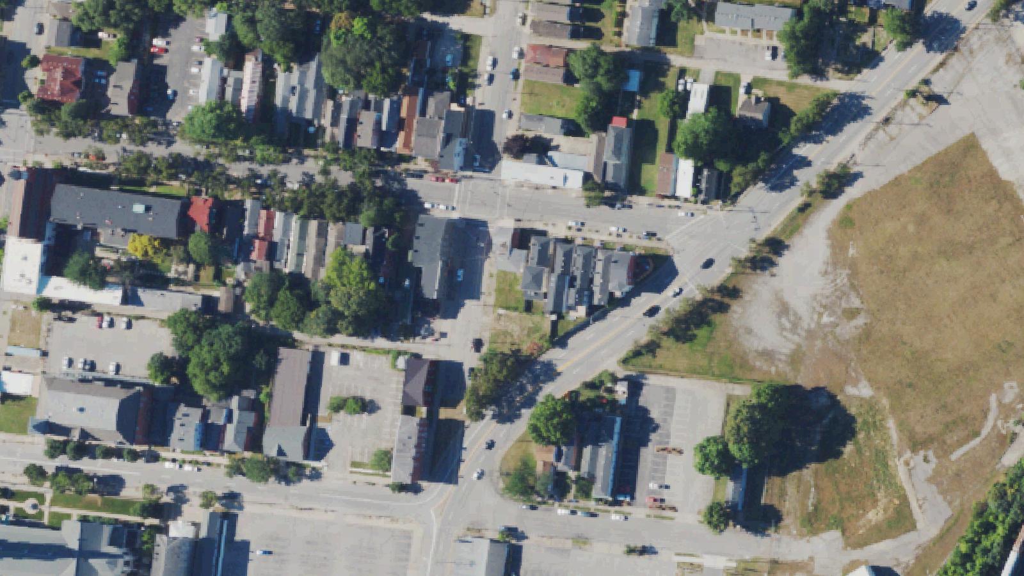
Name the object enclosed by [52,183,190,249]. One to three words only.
building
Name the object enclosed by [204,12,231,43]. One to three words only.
shed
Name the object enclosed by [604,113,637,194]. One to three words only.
house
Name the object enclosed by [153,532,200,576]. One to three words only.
house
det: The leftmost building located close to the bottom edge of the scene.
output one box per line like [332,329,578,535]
[0,518,134,576]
